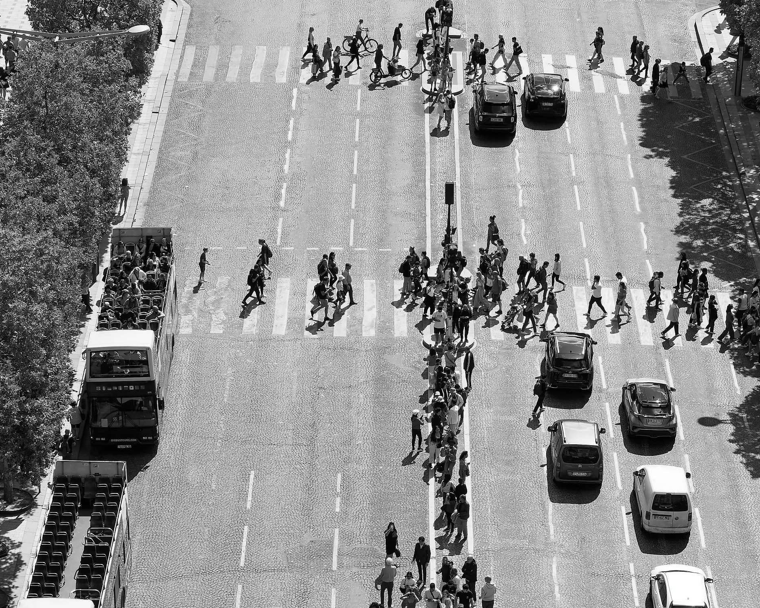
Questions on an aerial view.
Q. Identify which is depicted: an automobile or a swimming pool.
automobile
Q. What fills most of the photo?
paved ground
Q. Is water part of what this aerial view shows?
No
